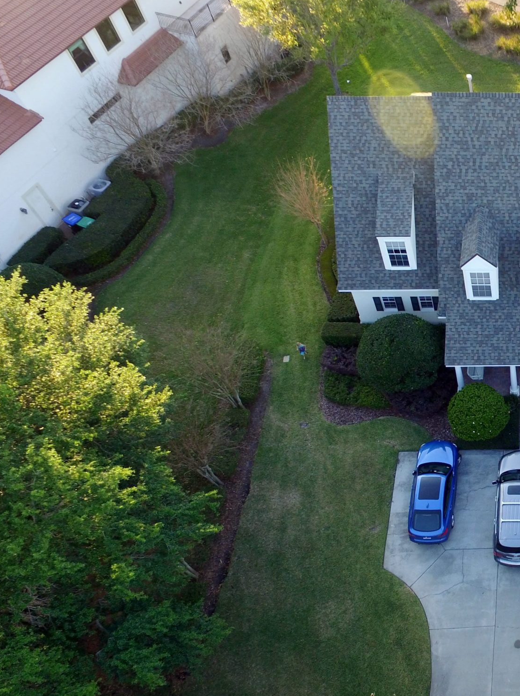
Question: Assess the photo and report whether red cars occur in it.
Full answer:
No, the scene contains no red car.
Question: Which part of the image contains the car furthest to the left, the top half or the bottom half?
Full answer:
The bottom half of the photo is where the car furthest to the left is.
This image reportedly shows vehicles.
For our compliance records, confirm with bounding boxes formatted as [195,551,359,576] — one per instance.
[404,440,462,549]
[488,451,520,566]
